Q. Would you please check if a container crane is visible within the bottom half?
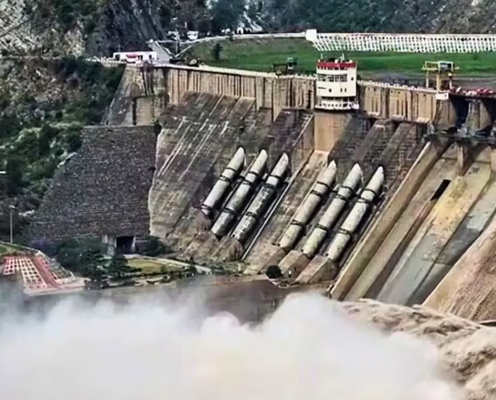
No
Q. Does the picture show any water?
Yes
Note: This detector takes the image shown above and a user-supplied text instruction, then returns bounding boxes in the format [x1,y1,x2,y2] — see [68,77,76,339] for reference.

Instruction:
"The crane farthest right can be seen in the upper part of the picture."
[431,59,466,92]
